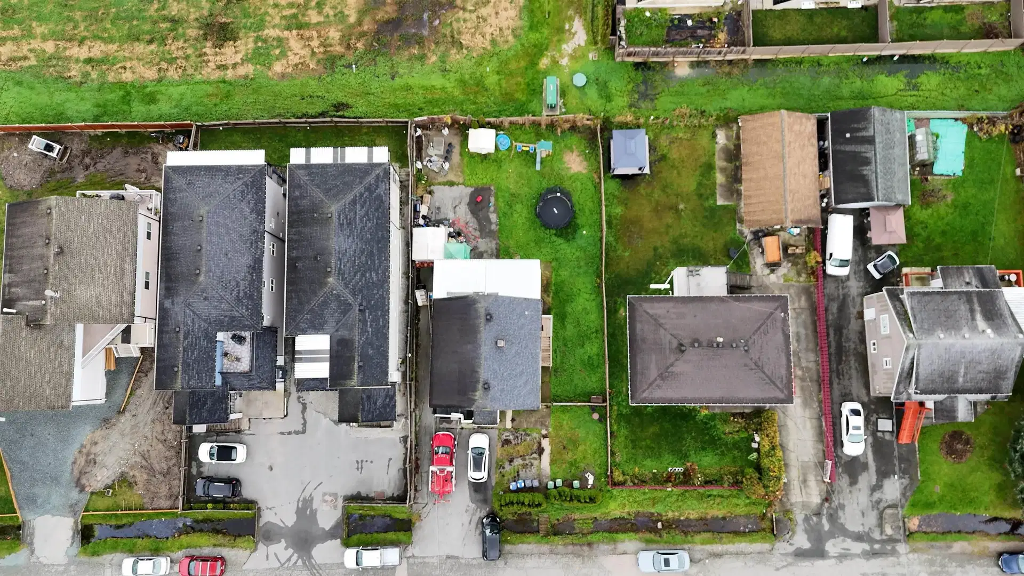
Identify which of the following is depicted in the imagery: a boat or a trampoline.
trampoline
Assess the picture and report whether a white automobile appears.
Yes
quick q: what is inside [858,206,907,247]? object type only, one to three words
gazebo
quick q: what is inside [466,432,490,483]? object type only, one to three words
car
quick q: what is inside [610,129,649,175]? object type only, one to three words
gazebo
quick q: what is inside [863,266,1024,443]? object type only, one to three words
house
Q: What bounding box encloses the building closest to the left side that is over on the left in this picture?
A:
[0,193,160,410]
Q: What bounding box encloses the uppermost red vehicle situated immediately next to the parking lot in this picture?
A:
[429,430,456,506]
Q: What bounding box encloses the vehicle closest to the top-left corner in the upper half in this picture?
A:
[23,132,74,167]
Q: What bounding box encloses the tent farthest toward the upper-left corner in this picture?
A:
[469,128,496,156]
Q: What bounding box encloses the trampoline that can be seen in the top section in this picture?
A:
[536,189,575,230]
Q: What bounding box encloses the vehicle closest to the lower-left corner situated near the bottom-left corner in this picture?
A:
[122,553,173,576]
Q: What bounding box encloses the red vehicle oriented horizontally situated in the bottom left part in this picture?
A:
[179,553,229,576]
